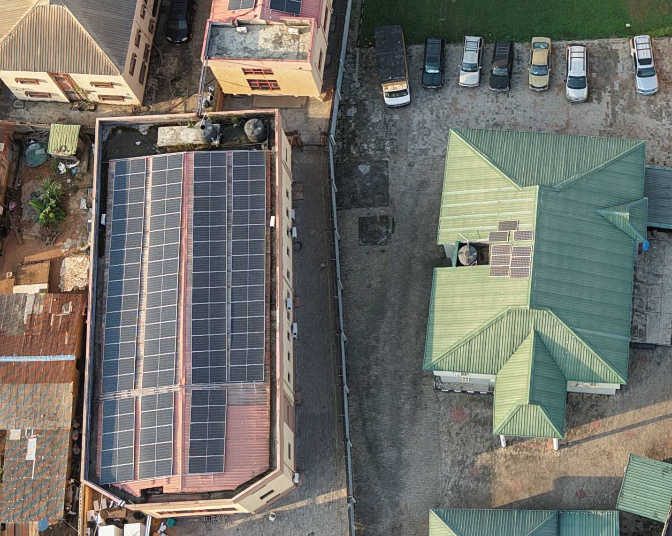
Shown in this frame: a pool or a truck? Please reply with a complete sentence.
It is a truck that can be seen here.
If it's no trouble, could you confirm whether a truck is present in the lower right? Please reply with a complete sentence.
No, no truck appears in the lower right.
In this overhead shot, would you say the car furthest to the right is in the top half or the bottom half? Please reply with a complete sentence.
It is in the top half that the car furthest to the right appears.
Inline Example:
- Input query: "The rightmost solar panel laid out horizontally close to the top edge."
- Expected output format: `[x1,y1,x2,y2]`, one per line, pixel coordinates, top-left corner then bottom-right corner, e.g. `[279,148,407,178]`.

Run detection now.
[270,0,303,14]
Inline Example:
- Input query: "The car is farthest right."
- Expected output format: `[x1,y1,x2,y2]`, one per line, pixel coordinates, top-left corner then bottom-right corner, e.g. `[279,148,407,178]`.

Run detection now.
[631,36,659,95]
